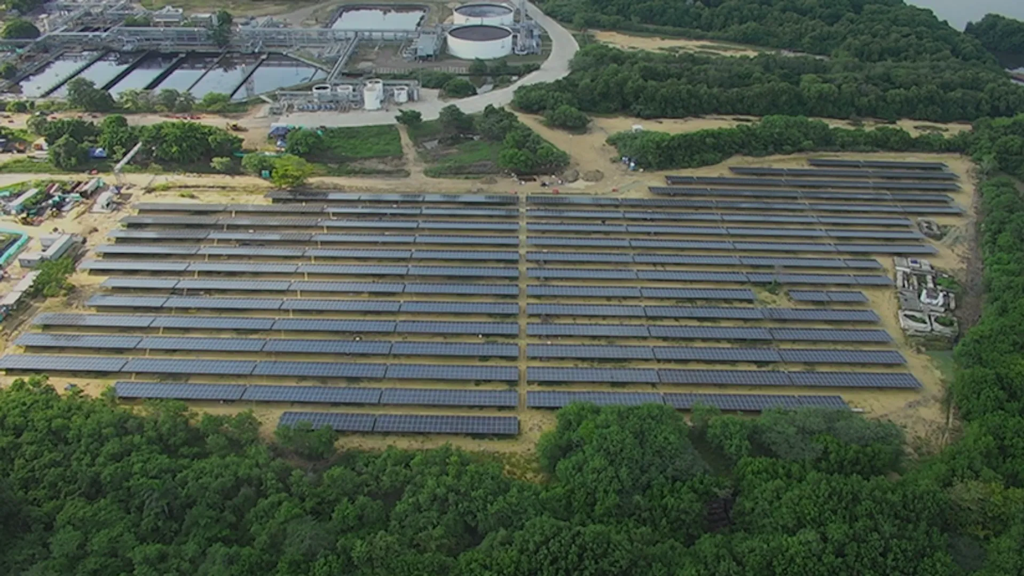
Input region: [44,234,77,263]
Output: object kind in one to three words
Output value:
building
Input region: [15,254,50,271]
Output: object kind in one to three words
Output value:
building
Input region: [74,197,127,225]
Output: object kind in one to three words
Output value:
shed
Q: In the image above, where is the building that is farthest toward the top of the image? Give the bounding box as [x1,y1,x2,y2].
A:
[418,35,437,64]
